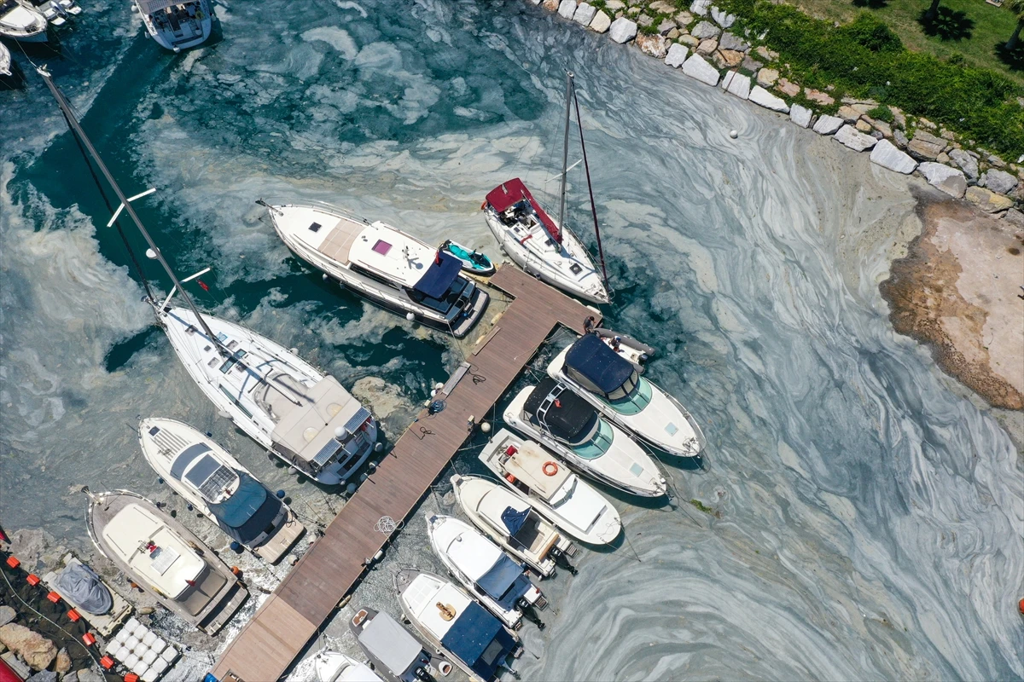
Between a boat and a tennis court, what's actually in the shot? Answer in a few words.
boat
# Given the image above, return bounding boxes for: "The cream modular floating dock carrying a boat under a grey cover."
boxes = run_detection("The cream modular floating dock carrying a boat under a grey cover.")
[47,543,134,646]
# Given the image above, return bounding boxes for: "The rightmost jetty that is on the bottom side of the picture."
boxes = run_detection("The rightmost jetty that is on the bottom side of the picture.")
[207,261,603,682]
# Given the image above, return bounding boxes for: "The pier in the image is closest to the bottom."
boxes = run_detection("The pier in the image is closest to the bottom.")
[104,616,181,682]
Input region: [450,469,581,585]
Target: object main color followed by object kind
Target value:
white boat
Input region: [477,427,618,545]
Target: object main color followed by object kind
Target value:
white boat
